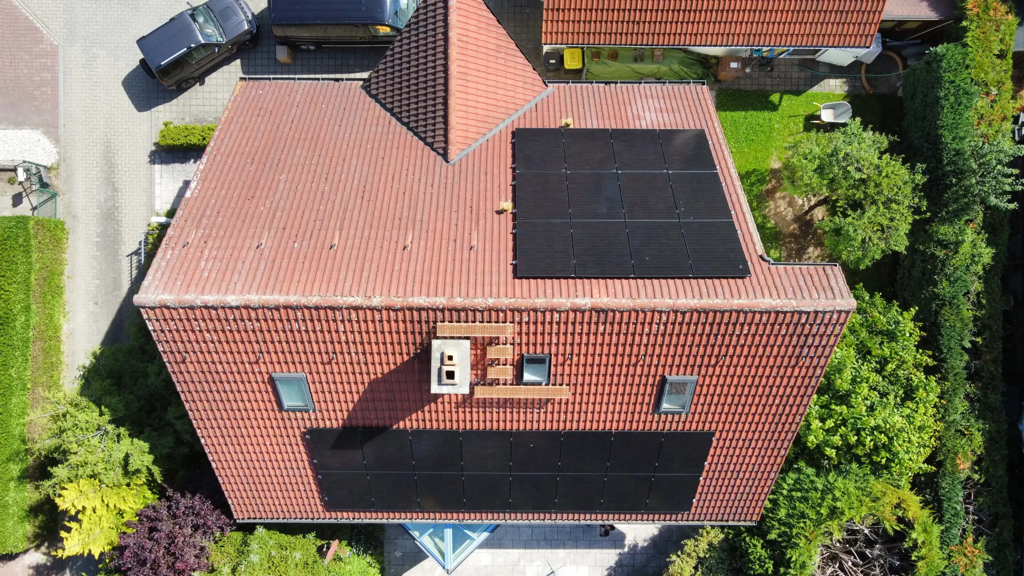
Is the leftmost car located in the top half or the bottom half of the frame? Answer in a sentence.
The top half of the photo is where the leftmost car is.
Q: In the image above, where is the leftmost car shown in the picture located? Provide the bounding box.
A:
[133,0,264,93]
